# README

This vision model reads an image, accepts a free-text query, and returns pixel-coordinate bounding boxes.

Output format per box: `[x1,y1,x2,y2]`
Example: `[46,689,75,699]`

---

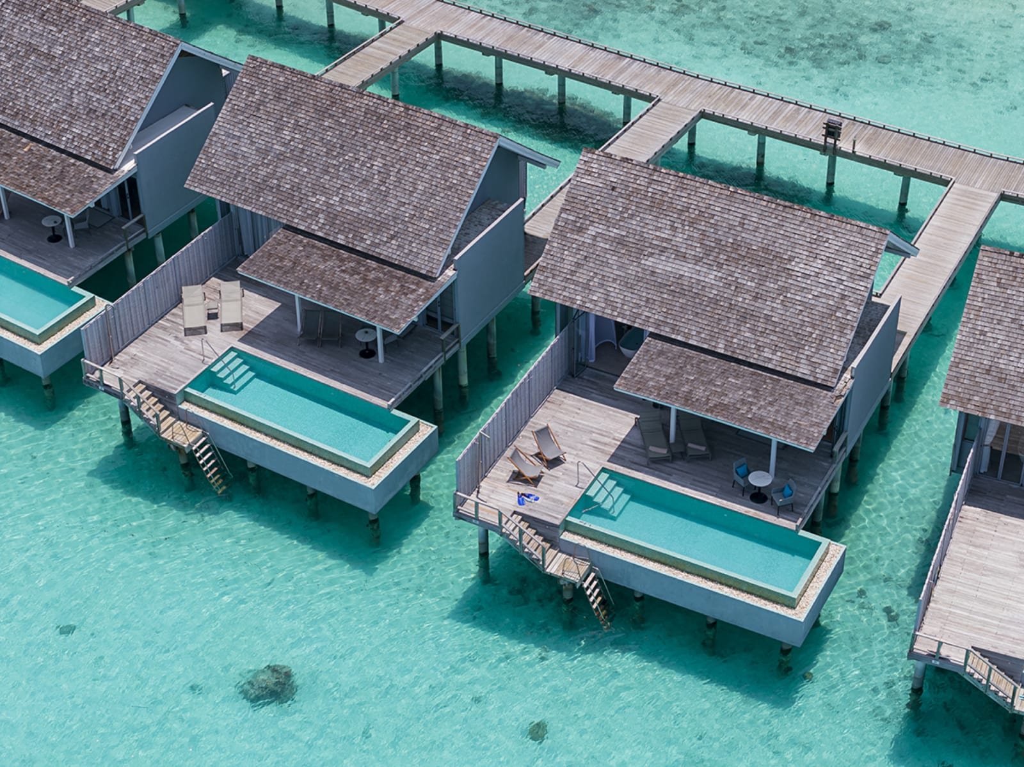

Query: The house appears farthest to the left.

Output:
[0,0,238,294]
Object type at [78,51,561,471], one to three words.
house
